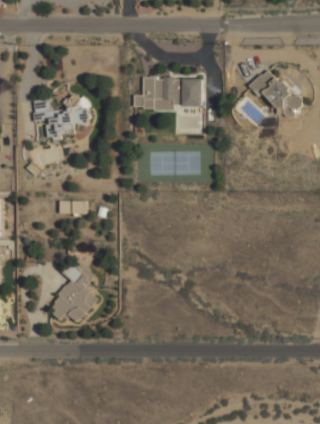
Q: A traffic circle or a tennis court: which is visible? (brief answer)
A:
tennis court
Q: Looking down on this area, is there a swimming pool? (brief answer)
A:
Yes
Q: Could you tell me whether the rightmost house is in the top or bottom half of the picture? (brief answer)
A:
top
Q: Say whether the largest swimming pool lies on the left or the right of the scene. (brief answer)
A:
right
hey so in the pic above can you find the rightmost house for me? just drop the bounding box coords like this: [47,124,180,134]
[248,70,302,118]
